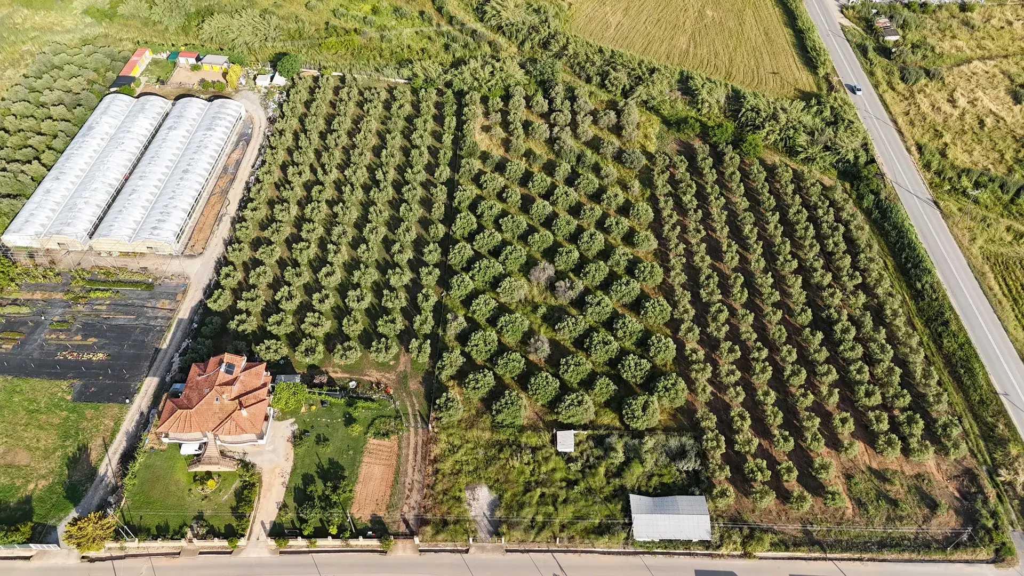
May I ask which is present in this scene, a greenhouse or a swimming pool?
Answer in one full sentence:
I can see a greenhouse in this picture.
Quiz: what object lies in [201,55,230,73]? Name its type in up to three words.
shed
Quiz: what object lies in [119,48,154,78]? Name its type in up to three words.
building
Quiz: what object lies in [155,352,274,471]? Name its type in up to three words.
house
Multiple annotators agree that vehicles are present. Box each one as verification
[175,445,204,456]
[853,84,864,95]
